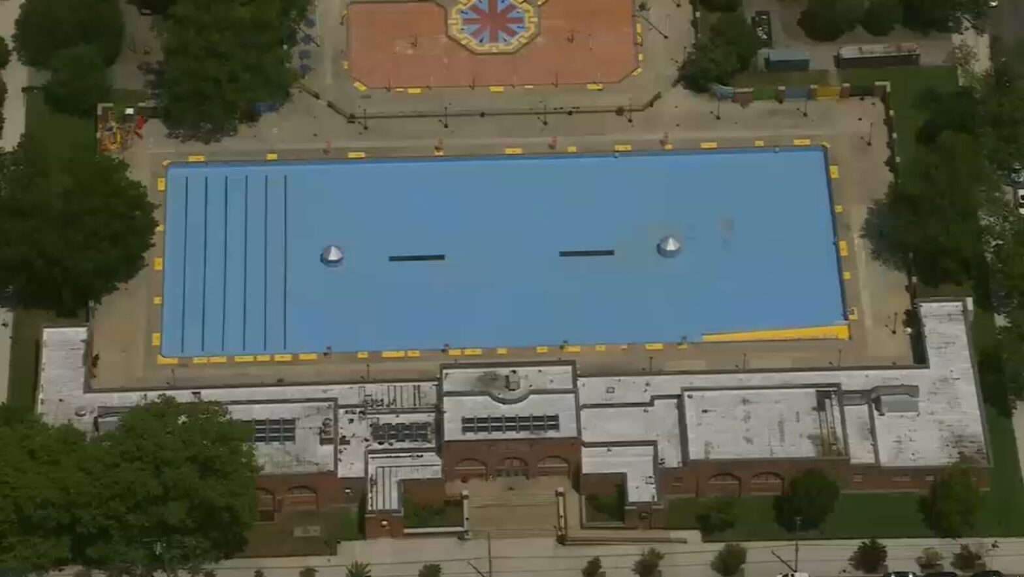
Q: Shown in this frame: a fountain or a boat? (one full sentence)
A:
I can see a fountain in this picture.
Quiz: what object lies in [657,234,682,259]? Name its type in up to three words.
fountain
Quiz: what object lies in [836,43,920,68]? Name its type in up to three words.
trailer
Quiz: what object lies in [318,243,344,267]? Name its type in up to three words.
fountain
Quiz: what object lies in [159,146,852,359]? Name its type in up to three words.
swimming pool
